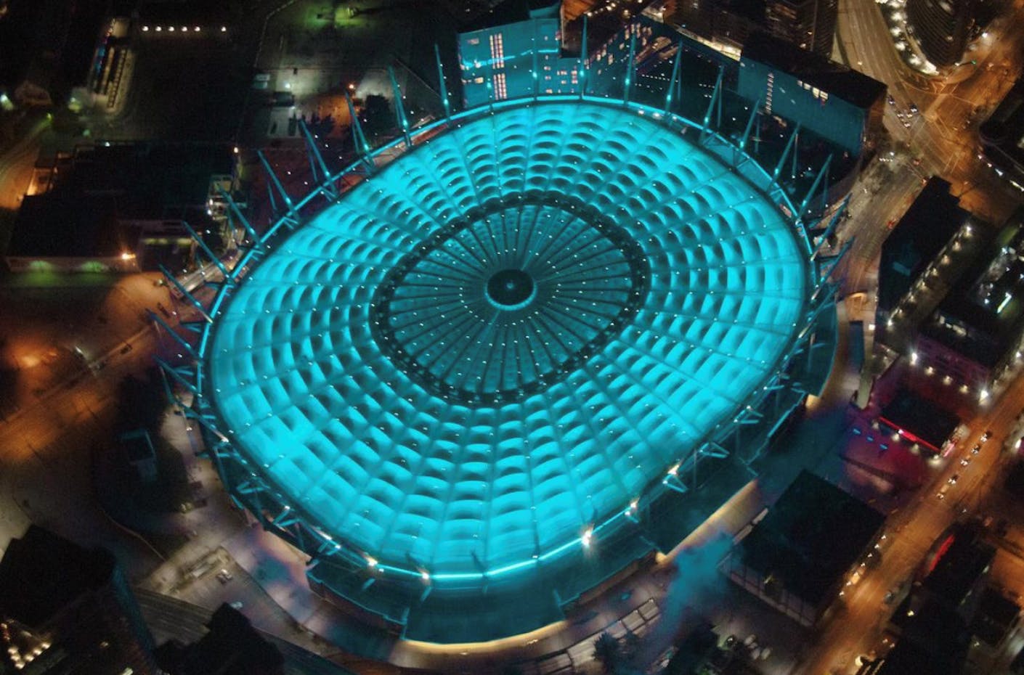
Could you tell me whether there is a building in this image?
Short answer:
Yes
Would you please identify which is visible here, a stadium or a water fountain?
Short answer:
stadium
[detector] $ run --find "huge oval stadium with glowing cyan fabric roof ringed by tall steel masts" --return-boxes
[149,20,858,651]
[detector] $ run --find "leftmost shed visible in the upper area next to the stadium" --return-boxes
[7,193,145,271]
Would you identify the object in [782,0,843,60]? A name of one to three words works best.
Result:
building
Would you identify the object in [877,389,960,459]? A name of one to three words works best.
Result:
building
